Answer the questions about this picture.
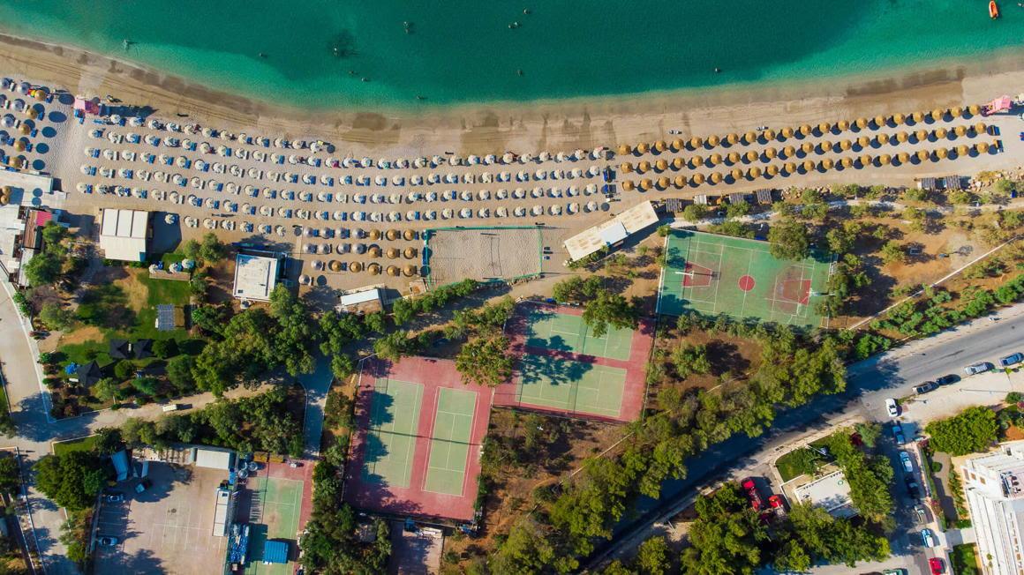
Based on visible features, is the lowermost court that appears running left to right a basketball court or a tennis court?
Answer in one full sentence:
Looking closely, the lowermost court that appears running left to right is a tennis court.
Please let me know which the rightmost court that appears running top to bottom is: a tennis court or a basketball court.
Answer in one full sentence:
I'd identify the rightmost court that appears running top to bottom as a tennis court.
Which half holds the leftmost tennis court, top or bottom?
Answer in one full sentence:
The leftmost tennis court is in the bottom half of the image.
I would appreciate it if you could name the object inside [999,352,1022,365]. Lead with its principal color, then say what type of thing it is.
blue vehicle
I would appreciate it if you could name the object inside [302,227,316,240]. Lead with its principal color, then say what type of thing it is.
gray umbrella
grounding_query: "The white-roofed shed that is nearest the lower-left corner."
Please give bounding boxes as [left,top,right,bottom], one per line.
[191,447,237,469]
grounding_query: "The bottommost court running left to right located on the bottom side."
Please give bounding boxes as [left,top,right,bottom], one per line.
[492,350,642,423]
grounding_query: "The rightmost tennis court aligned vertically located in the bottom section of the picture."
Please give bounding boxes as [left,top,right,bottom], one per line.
[415,360,497,520]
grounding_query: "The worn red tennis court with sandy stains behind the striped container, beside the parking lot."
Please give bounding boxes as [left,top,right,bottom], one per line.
[233,461,315,575]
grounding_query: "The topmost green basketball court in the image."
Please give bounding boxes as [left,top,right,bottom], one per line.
[657,229,834,328]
